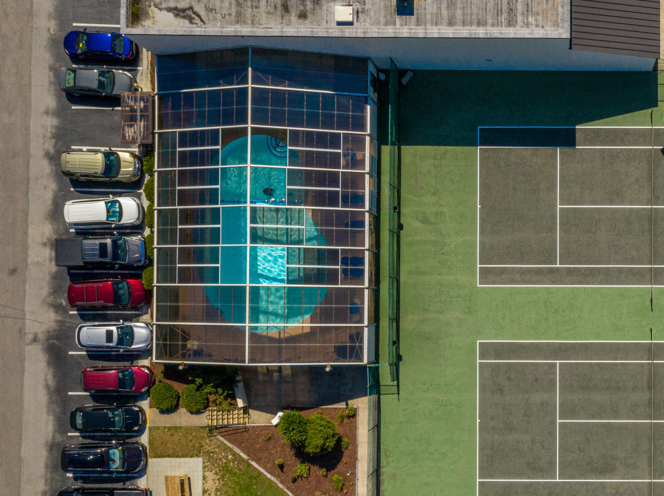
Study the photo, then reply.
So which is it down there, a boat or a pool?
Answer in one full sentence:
Of the two, only a pool appears.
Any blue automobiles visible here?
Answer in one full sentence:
Yes, the photo shows a blue automobile.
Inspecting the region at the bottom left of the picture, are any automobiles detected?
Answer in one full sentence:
Yes, at the bottom left of the picture there is an automobile.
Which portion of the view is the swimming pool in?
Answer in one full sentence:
You can find the swimming pool in the center area of the picture.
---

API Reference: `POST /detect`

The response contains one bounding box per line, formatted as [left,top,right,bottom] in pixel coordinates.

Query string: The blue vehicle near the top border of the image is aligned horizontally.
[65,23,138,61]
